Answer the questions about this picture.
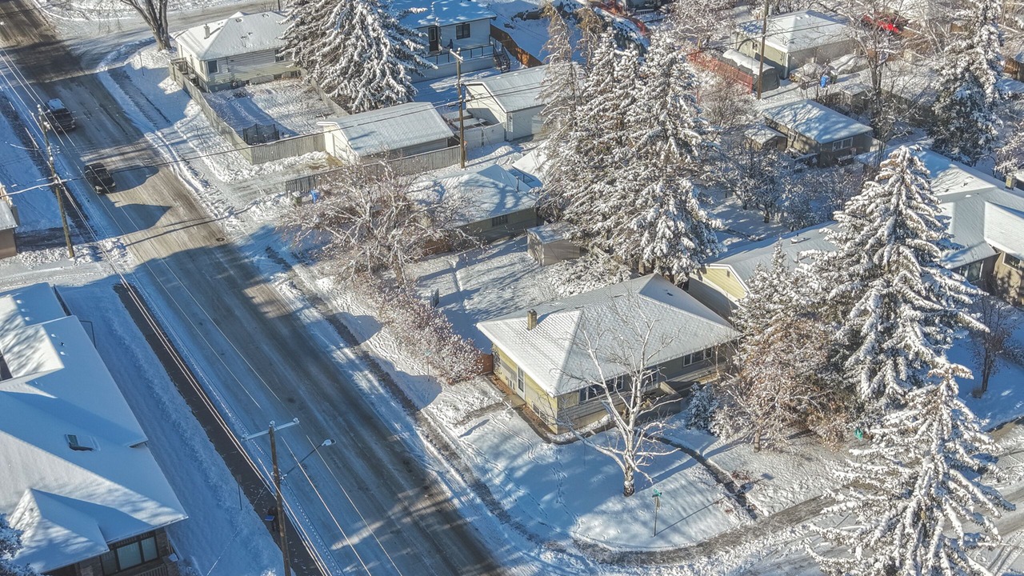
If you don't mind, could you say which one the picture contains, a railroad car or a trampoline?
trampoline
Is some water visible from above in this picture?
No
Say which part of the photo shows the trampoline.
top left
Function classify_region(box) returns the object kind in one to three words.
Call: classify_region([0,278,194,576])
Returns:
house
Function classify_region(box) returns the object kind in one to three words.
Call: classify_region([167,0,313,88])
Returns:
house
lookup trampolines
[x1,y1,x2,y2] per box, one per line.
[241,111,279,145]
